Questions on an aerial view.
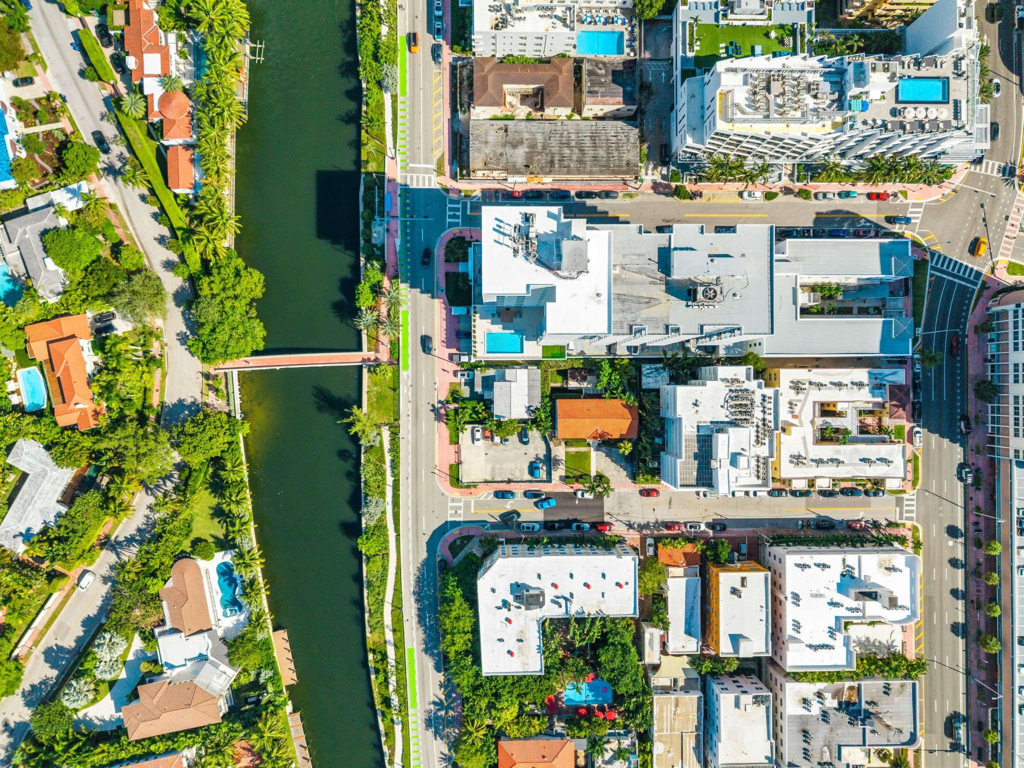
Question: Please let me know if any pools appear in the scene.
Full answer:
Yes, a pool can be made out from above.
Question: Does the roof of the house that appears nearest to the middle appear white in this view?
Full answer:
Yes, the roof of the house that appears nearest to the middle appears white.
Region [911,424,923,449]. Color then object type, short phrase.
white vehicle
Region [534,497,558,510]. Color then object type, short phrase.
blue vehicle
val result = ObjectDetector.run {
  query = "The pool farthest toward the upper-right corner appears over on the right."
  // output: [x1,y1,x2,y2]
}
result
[897,78,950,103]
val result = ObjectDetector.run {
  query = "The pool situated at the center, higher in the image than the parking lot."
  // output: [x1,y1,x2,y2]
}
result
[485,331,525,355]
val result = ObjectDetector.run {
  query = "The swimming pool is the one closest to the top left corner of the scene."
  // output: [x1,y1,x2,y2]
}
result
[192,41,208,82]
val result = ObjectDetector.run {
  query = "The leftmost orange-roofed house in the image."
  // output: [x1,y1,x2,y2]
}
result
[28,314,112,431]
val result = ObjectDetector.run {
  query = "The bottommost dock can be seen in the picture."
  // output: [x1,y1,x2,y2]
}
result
[288,707,313,768]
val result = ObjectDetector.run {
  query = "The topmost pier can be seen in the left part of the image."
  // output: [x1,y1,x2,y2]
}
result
[273,626,301,685]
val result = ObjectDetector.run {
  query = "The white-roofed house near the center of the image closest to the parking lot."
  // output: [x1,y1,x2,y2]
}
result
[474,367,541,419]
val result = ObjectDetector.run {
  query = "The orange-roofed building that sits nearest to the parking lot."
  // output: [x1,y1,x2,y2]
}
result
[556,399,639,444]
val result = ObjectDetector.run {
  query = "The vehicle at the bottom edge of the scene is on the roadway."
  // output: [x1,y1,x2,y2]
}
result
[949,716,961,738]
